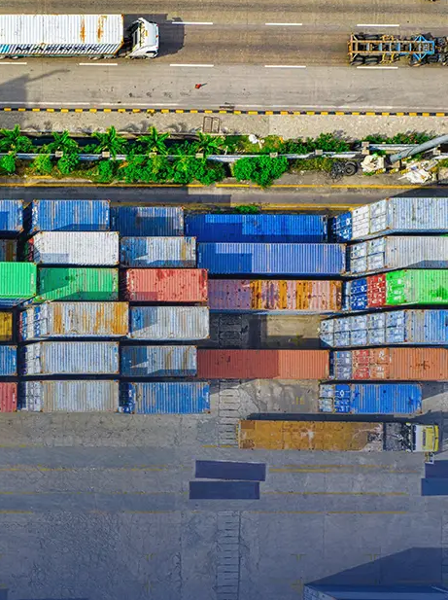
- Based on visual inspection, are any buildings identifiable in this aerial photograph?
No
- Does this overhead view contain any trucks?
Yes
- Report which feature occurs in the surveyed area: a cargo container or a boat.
cargo container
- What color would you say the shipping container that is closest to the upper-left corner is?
white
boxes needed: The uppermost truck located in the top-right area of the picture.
[341,37,448,71]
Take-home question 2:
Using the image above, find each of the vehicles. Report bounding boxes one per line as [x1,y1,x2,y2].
[341,37,448,71]
[79,24,162,65]
[234,417,438,462]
